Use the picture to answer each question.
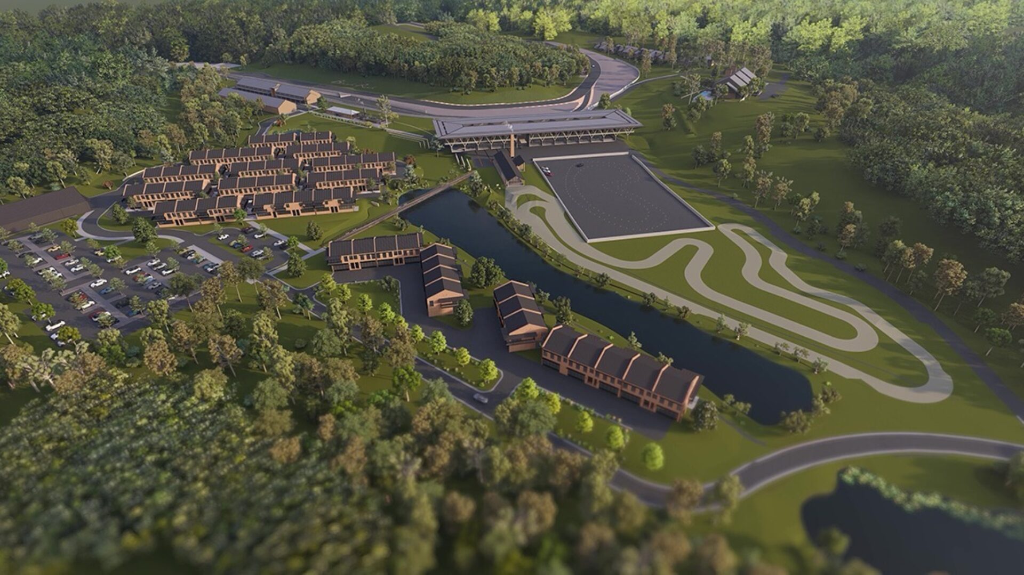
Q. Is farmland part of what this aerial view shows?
No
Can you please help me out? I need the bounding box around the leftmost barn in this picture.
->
[0,189,92,237]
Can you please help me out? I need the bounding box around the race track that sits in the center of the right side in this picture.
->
[534,201,962,406]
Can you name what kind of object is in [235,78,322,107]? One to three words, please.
building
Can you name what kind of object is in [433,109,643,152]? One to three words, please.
building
